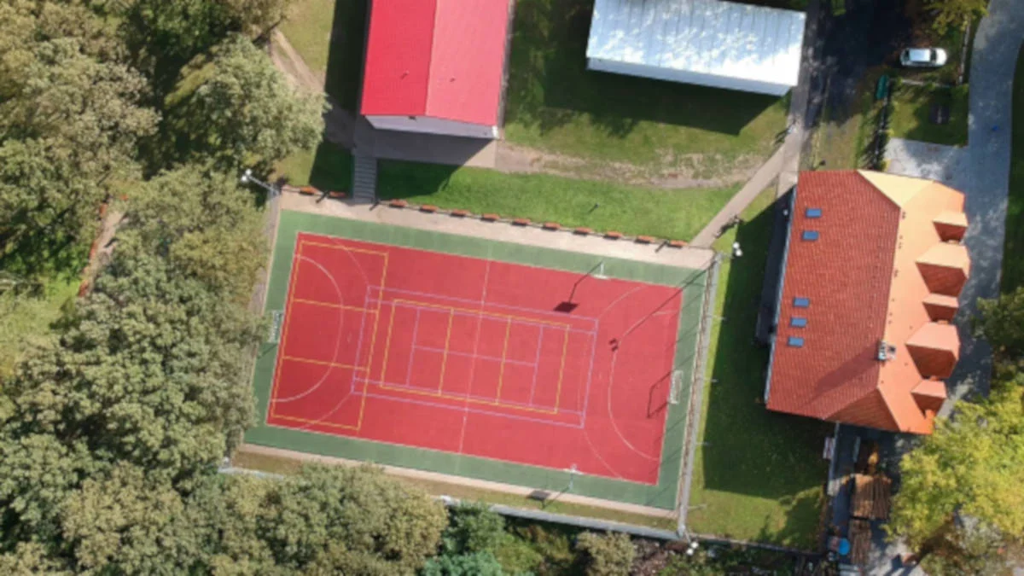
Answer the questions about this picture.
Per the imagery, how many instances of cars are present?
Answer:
1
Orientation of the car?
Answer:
from side to side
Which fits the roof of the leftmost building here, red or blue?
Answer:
red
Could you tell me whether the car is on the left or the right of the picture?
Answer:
right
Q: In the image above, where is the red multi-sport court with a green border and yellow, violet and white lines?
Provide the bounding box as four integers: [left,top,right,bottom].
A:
[242,208,709,510]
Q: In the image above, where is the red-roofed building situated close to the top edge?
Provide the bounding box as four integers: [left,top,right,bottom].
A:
[360,0,510,136]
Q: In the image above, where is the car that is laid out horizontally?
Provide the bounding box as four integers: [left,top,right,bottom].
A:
[902,44,949,67]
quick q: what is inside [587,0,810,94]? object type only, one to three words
shed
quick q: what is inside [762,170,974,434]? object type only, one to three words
house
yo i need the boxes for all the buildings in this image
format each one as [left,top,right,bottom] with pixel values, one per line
[360,0,510,136]
[762,170,974,434]
[587,0,810,94]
